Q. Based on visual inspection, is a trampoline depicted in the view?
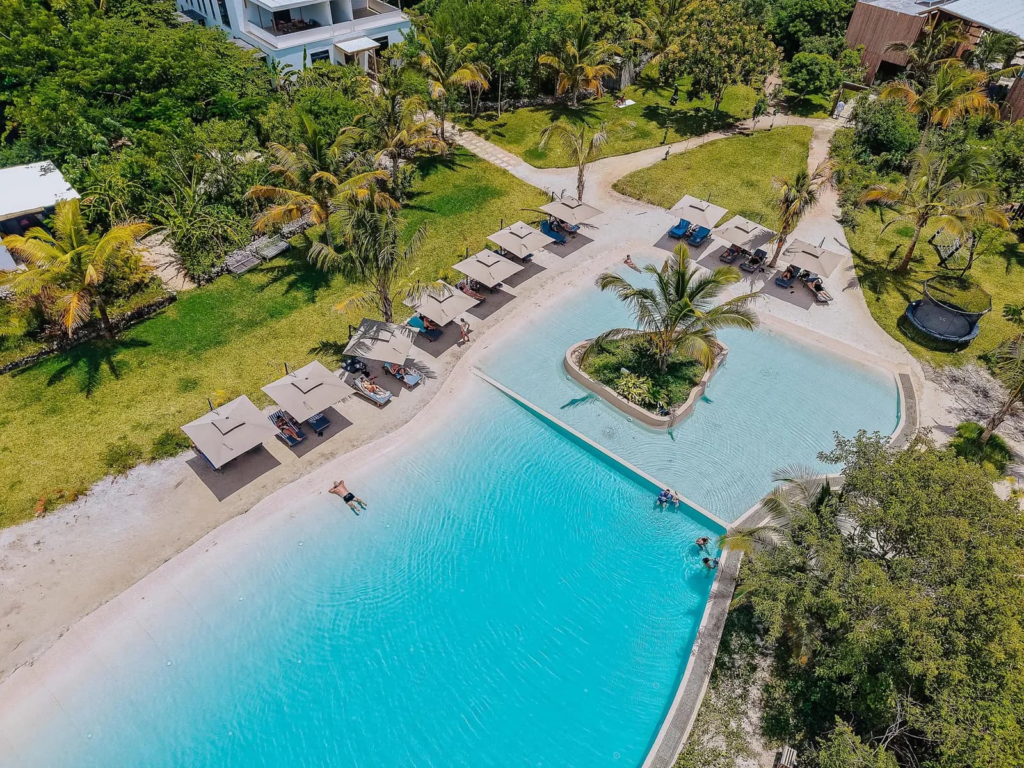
Yes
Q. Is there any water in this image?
Yes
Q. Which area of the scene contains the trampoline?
right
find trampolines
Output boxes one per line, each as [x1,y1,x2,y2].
[902,277,990,347]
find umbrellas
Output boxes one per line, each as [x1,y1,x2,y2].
[487,215,556,257]
[181,393,282,467]
[406,276,479,327]
[667,189,730,232]
[542,189,602,233]
[453,244,523,291]
[262,358,357,425]
[342,318,419,375]
[710,211,777,256]
[777,234,844,280]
